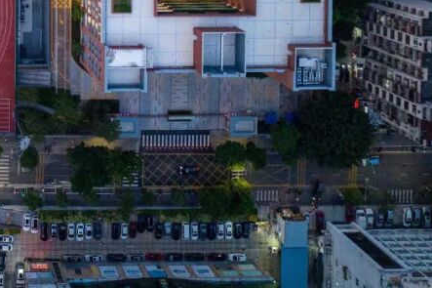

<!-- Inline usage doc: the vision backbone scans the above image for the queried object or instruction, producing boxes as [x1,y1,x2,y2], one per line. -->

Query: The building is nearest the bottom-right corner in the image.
[329,220,432,288]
